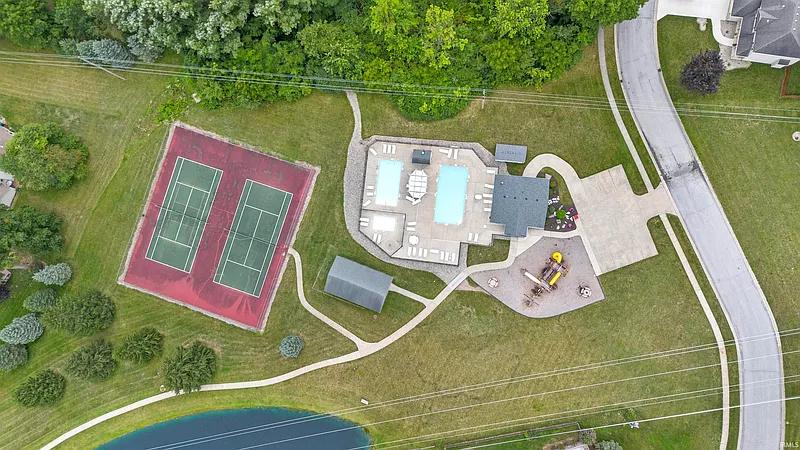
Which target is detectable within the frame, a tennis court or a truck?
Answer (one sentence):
It is a tennis court that can be seen here.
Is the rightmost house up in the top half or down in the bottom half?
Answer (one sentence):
The rightmost house is in the top half of the image.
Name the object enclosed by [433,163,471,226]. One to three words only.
swimming pool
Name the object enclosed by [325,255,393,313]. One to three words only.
building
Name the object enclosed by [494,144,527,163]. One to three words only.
shed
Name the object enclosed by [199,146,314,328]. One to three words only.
tennis court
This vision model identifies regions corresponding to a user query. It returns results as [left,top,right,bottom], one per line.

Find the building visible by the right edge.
[725,0,800,69]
